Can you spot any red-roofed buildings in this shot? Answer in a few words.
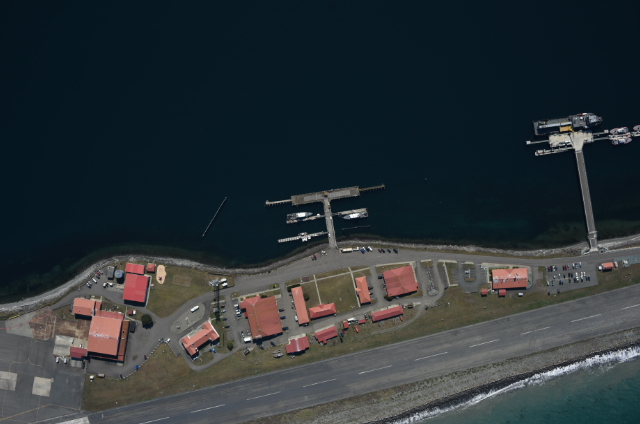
Yes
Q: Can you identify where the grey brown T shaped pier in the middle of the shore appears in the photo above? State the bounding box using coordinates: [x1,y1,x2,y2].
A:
[265,184,386,250]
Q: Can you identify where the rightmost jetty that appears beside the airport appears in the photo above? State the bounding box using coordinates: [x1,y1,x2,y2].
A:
[526,129,610,251]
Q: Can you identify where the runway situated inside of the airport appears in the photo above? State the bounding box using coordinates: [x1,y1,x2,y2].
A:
[41,284,640,424]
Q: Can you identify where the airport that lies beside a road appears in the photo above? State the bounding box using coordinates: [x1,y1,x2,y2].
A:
[0,284,640,424]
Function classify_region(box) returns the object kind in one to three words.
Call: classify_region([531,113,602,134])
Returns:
ship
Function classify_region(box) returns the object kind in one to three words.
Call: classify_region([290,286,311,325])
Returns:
building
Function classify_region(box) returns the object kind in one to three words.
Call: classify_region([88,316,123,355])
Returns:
hangar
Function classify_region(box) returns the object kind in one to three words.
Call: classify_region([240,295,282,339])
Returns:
building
